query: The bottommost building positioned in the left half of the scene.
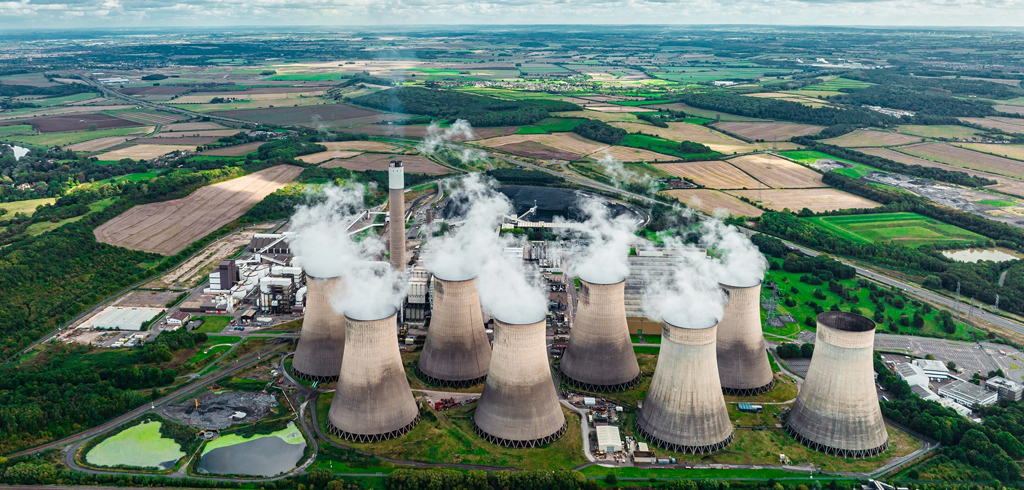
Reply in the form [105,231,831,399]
[183,427,227,443]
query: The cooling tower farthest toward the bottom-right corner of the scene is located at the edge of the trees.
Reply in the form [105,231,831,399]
[783,310,892,460]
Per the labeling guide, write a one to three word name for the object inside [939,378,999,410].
building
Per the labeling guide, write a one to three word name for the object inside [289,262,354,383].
cooling tower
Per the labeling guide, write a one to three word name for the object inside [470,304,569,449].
cooling tower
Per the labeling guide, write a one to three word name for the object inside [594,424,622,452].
building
